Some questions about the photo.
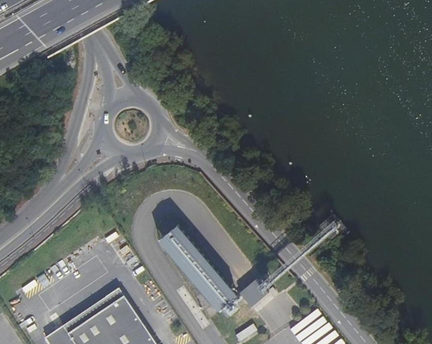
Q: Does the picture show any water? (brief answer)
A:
Yes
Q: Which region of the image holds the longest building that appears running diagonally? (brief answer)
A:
bottom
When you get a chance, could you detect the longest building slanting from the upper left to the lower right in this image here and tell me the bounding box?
[158,224,244,318]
